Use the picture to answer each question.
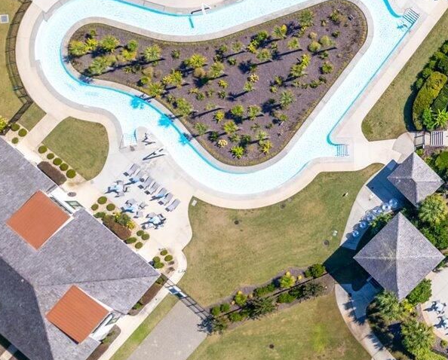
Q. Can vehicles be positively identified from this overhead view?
No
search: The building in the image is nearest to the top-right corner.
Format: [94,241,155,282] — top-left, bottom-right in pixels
[387,153,443,205]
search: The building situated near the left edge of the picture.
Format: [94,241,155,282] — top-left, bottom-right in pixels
[0,131,165,360]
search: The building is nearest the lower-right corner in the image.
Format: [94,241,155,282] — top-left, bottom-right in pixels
[353,213,443,299]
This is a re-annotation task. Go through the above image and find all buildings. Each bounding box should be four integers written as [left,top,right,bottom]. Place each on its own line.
[387,153,443,205]
[0,131,165,360]
[353,213,443,299]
